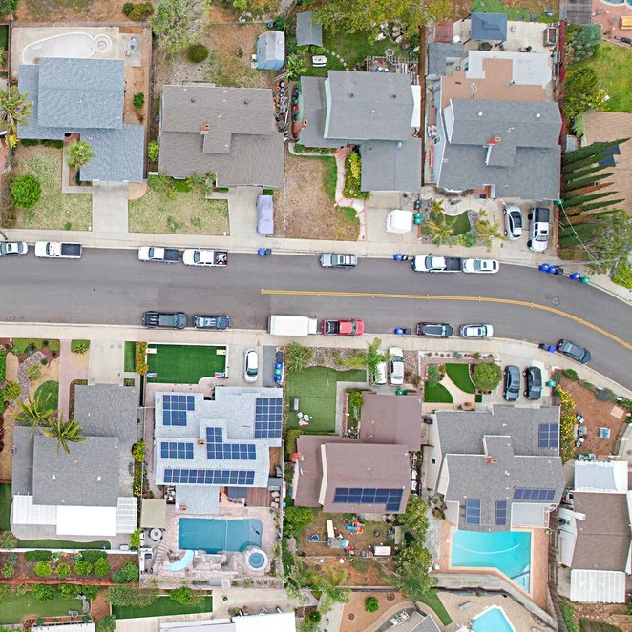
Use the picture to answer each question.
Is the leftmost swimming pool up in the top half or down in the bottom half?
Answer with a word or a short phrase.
top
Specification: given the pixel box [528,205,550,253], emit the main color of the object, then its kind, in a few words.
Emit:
white truck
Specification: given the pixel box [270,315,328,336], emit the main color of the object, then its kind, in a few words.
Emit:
white trailer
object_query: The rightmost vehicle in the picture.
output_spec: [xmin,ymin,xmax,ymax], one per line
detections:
[554,338,593,366]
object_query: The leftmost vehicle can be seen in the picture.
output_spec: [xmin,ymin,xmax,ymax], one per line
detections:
[0,240,28,257]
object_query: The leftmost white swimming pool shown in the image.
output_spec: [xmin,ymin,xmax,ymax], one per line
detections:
[16,29,98,64]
